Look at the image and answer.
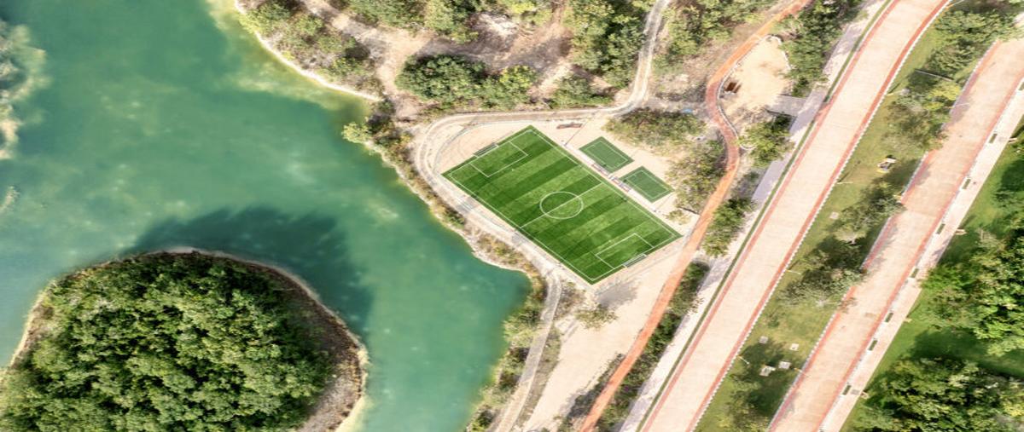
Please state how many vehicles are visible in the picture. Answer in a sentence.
There are no vehicles in this view.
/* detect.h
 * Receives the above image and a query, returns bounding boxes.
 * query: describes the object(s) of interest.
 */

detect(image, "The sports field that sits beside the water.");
[443,126,681,283]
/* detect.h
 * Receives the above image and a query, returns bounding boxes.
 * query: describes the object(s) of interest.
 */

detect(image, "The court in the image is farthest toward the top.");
[579,136,633,172]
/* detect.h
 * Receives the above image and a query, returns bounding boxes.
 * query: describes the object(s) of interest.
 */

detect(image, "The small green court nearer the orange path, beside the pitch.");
[619,166,673,201]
